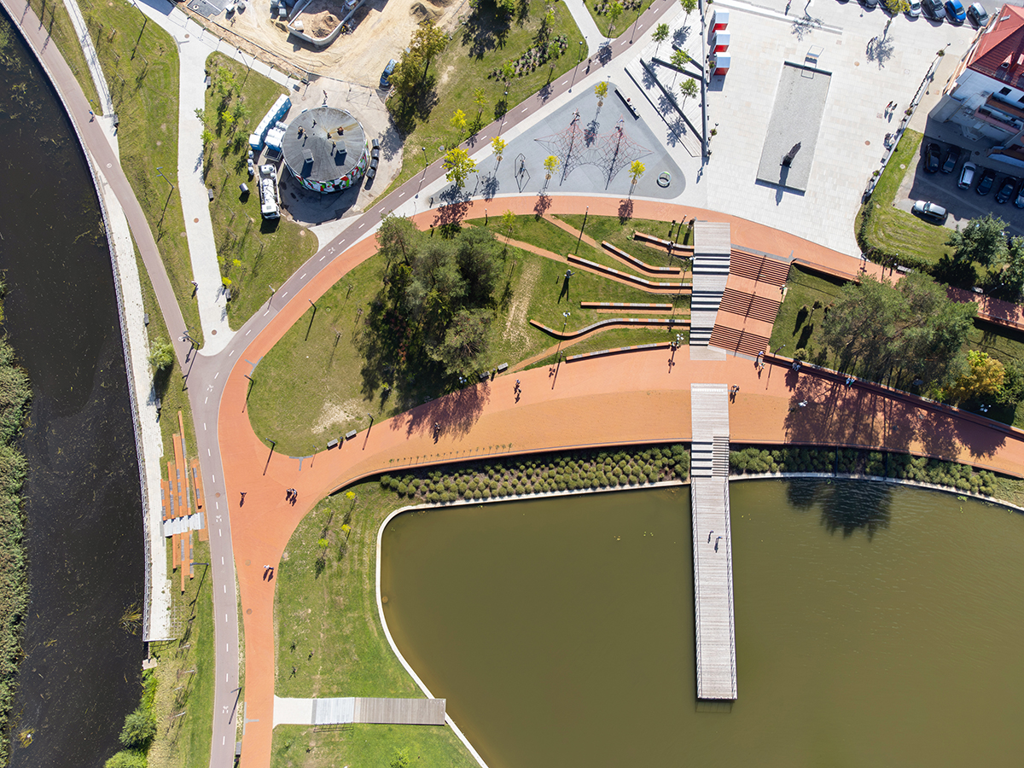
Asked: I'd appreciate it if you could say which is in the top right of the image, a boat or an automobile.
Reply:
automobile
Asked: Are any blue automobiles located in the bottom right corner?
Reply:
No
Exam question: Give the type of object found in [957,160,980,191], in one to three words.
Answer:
car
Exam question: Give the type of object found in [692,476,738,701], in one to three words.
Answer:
pier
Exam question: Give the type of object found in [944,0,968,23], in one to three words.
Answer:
car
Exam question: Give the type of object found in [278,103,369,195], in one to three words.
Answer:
building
